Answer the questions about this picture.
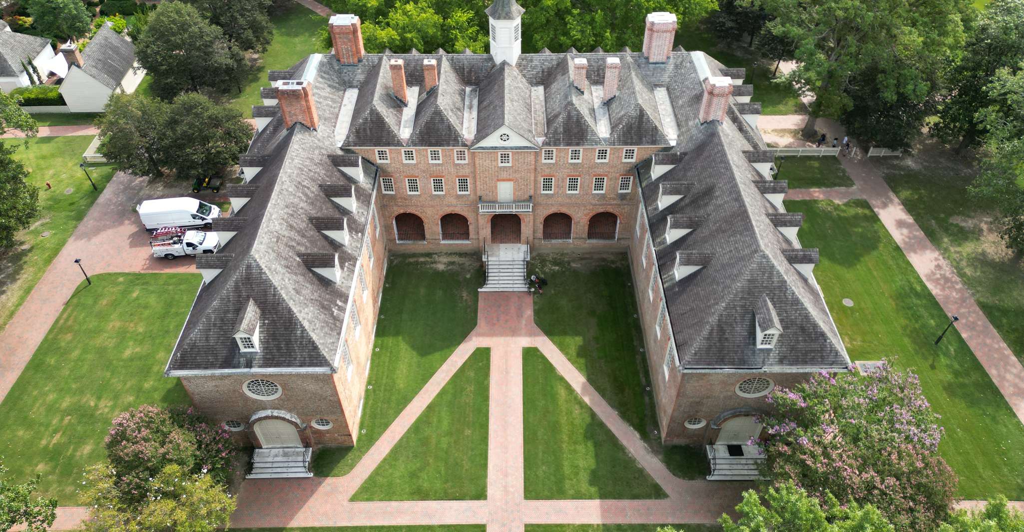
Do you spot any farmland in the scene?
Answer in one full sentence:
No, there is no farmland in the image.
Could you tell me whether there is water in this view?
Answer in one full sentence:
No, there's no water in this view.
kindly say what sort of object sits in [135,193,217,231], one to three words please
van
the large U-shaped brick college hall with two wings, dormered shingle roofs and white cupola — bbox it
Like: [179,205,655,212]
[162,0,853,481]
